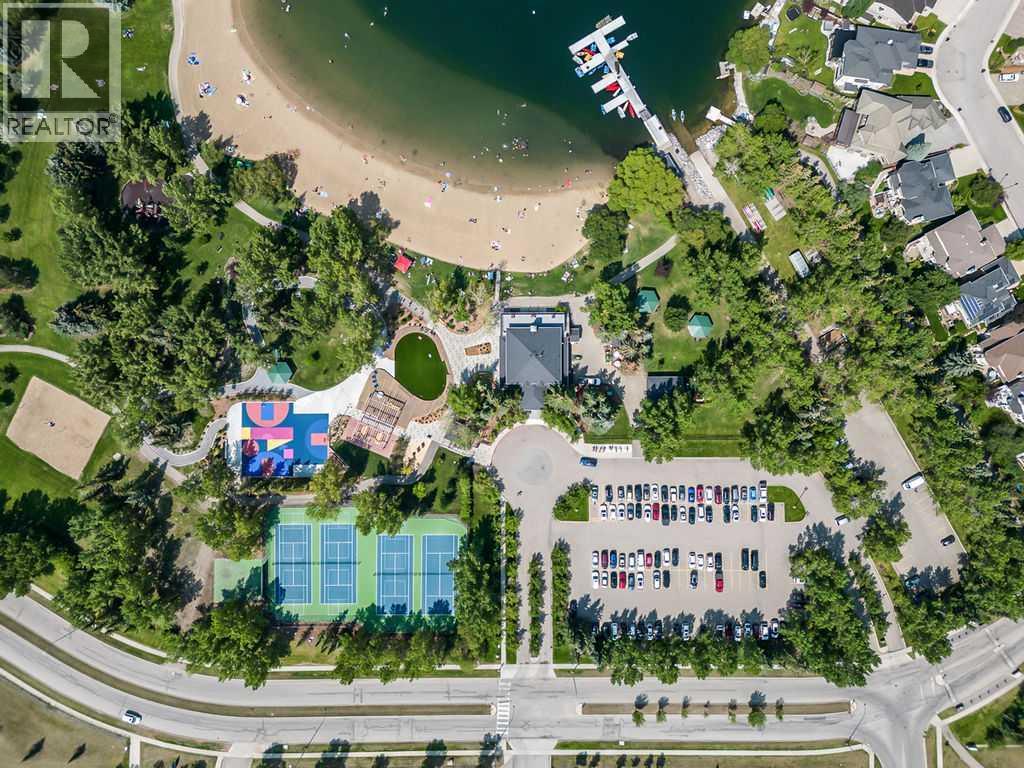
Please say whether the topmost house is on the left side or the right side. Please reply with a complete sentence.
The topmost house appears in the right half of the scene.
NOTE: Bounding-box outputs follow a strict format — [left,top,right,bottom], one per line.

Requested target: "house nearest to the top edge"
[870,0,942,31]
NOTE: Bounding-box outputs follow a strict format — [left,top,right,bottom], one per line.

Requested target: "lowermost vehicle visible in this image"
[124,711,141,723]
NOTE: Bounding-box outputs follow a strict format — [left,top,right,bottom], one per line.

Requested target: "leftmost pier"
[569,14,676,158]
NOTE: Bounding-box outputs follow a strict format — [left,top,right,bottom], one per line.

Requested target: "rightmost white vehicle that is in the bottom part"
[903,475,923,489]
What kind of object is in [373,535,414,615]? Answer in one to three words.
tennis court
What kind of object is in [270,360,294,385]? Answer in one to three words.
gazebo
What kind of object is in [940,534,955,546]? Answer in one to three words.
vehicle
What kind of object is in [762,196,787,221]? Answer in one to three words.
shed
